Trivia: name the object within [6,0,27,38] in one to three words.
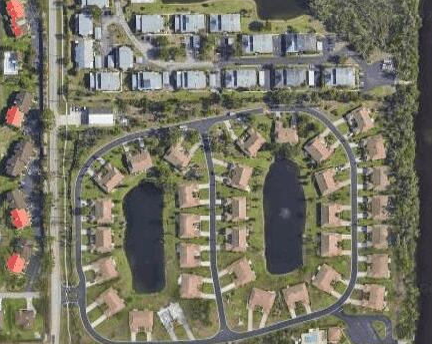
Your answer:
building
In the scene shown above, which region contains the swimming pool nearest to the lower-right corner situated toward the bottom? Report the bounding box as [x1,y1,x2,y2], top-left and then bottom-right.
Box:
[301,330,327,344]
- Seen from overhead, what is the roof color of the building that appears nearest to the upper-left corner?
red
